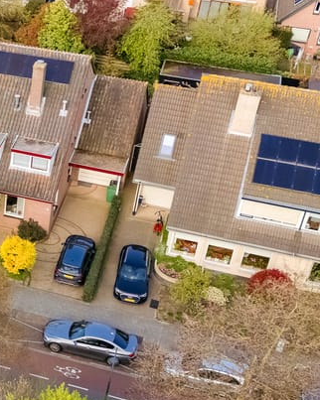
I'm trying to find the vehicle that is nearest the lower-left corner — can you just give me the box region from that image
[44,316,139,364]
